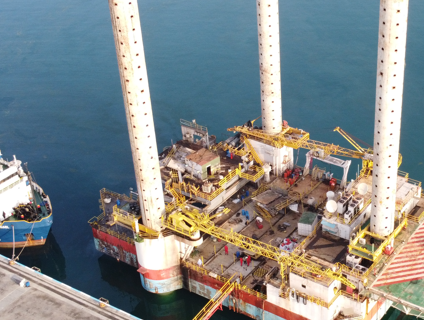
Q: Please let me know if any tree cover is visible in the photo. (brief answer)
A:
No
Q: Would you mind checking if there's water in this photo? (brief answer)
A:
Yes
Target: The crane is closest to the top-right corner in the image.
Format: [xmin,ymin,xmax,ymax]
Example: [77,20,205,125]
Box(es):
[223,119,374,187]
